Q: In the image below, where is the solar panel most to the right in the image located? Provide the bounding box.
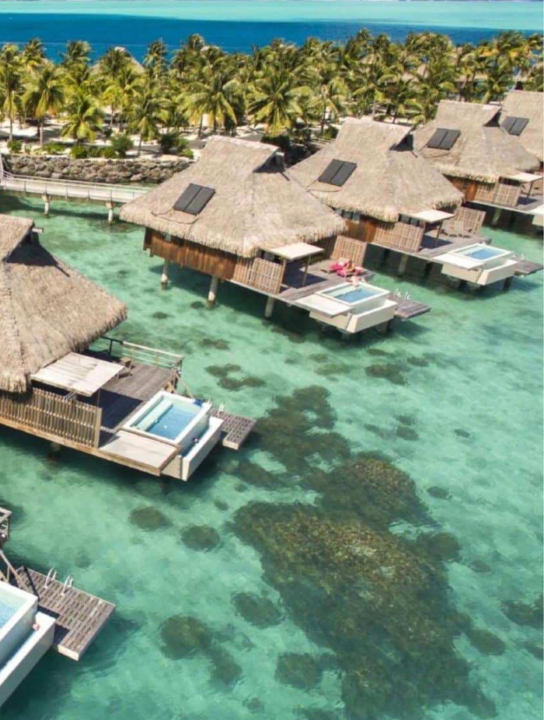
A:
[499,119,523,139]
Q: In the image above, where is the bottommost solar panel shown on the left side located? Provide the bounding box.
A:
[158,184,214,224]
